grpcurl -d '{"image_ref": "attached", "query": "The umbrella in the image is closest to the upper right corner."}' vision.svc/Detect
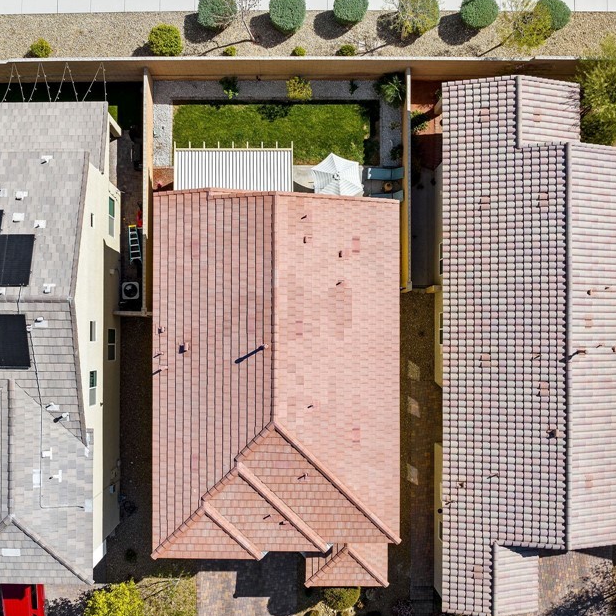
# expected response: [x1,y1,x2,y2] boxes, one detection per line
[311,149,362,195]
